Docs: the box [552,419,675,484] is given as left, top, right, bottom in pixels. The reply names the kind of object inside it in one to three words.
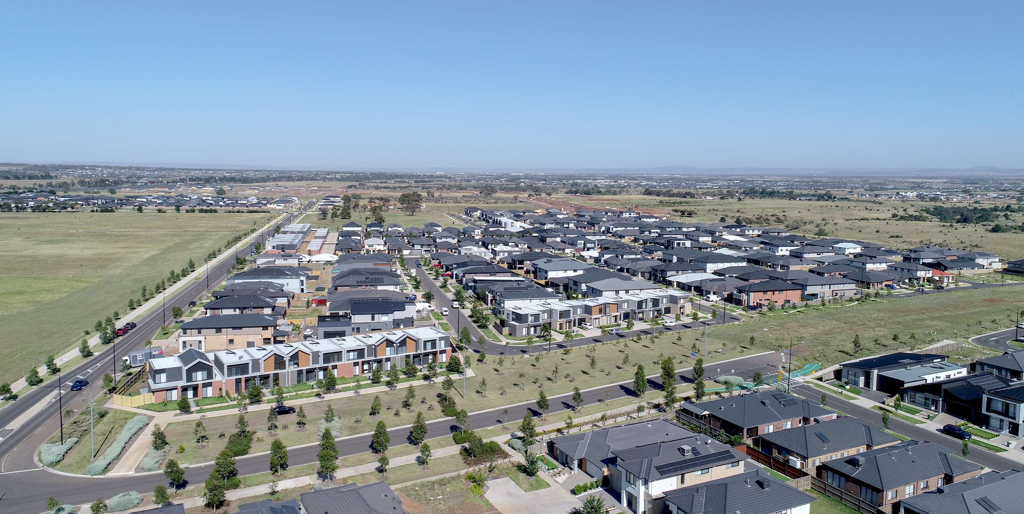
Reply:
house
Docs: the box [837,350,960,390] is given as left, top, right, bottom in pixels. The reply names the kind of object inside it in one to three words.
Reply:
house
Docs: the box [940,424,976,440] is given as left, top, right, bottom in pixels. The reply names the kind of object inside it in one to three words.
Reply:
car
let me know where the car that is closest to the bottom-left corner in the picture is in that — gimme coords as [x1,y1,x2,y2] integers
[65,378,95,390]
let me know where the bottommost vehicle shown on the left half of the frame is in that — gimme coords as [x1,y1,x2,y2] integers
[270,403,298,415]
